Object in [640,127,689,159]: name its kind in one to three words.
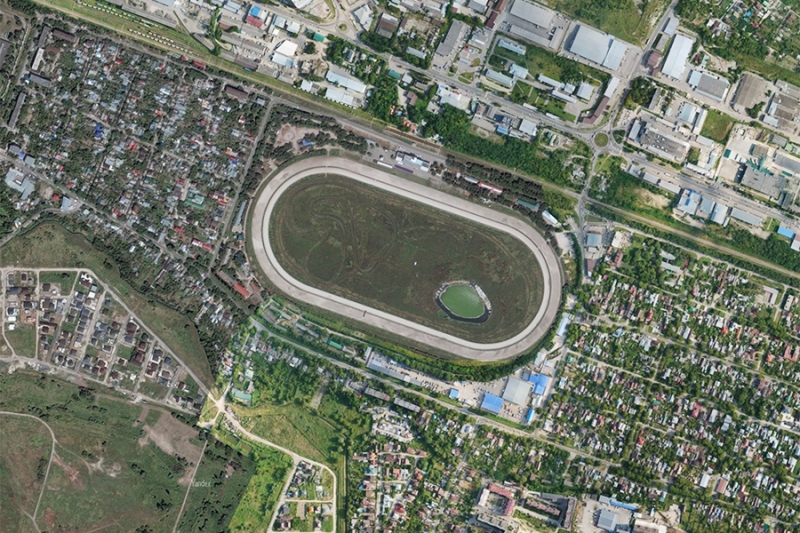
building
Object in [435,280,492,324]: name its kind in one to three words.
pond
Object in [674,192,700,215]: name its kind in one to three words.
building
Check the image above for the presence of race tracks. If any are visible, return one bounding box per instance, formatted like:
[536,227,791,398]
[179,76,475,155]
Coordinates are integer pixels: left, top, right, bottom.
[252,156,562,362]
